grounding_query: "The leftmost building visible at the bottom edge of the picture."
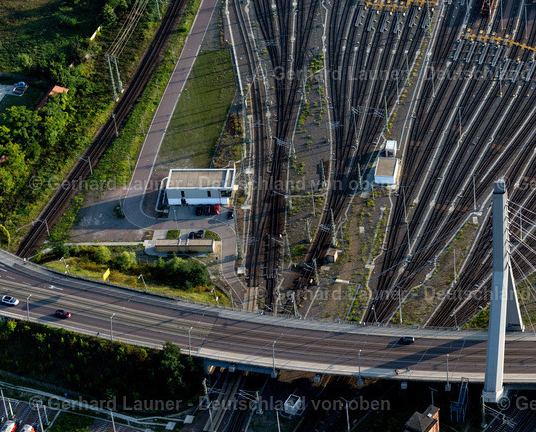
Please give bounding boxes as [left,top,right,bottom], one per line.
[284,393,302,415]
